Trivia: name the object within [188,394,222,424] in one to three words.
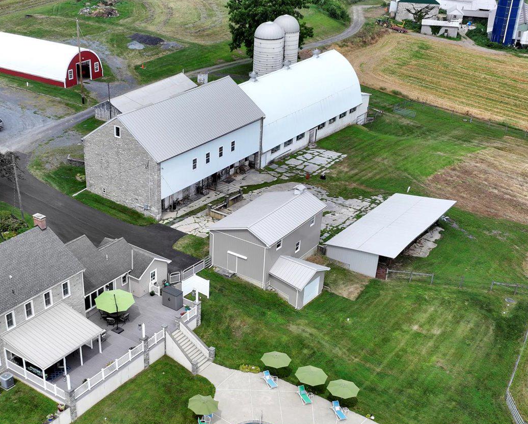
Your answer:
umbrella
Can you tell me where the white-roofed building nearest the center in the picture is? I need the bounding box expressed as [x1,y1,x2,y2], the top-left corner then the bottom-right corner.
[206,182,326,312]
